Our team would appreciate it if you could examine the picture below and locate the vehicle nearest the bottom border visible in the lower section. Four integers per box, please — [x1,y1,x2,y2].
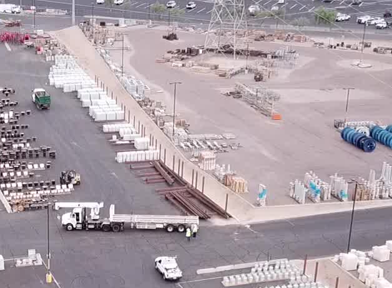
[152,252,187,279]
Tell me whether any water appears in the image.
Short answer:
No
